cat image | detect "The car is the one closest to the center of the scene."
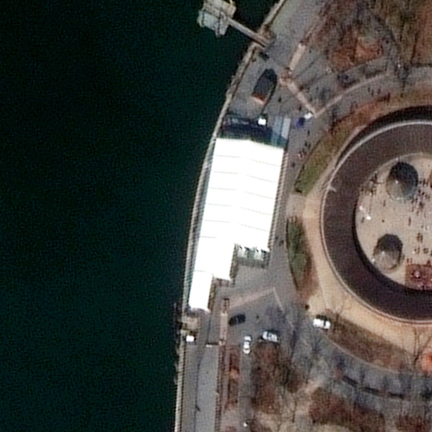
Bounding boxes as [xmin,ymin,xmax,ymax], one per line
[226,313,246,327]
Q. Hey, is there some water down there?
Yes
